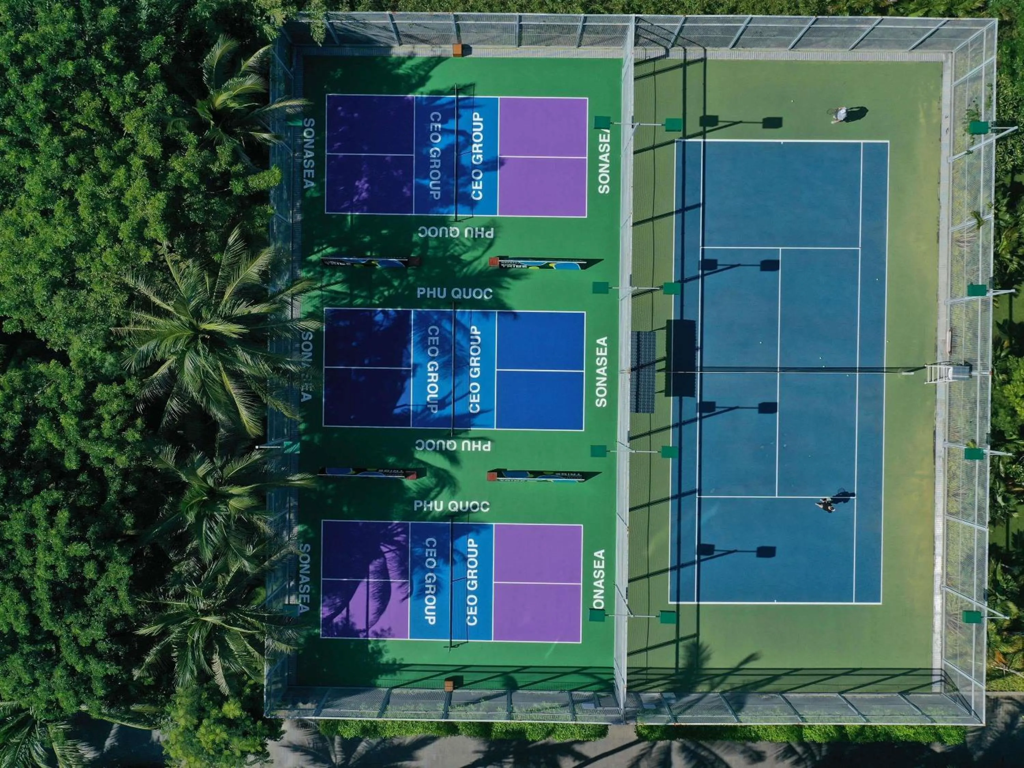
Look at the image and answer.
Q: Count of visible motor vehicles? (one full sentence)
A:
There are no motor vehicles in the image.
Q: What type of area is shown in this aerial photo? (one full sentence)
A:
The picture captures a sports ground.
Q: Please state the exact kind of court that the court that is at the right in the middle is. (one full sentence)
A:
From above, the court that is at the right in the middle can be identified as a tennis court.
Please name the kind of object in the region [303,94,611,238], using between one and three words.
sports court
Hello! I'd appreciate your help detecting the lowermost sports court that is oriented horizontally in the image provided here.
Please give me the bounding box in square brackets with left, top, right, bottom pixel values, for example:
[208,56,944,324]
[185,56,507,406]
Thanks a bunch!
[299,501,605,644]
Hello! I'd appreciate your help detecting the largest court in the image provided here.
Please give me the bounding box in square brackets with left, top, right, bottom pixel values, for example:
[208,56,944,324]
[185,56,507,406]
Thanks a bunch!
[615,59,943,693]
